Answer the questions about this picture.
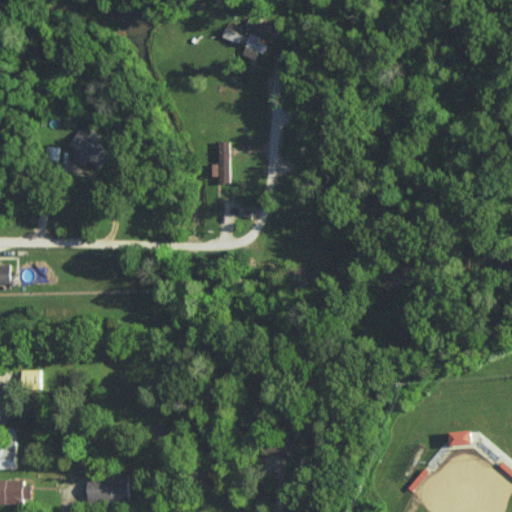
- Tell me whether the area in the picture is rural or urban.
rural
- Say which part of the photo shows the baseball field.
bottom right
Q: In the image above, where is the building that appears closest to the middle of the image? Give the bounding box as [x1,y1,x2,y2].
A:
[210,142,236,183]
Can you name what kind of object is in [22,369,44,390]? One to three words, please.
barn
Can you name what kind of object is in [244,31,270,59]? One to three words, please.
house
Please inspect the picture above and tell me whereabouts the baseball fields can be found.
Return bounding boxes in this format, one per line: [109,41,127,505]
[372,358,512,512]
